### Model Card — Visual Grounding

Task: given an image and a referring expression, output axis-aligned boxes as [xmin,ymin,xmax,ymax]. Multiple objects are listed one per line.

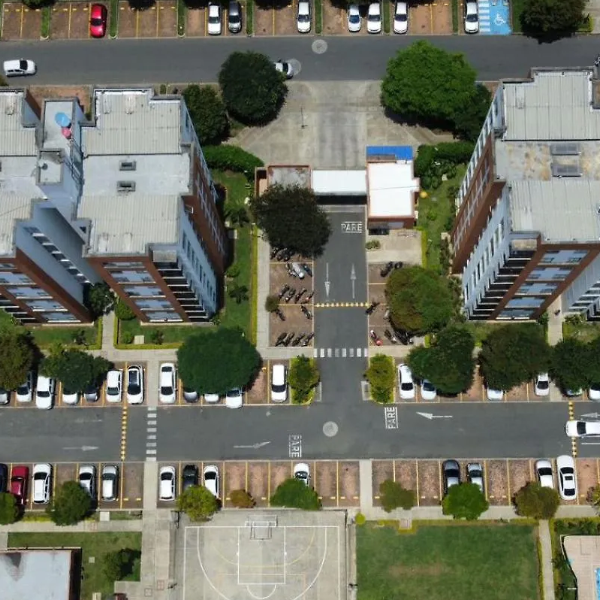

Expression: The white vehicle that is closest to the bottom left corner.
[32,463,54,505]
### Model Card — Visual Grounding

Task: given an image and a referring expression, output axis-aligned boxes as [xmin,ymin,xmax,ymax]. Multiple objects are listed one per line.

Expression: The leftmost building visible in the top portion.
[0,88,225,328]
